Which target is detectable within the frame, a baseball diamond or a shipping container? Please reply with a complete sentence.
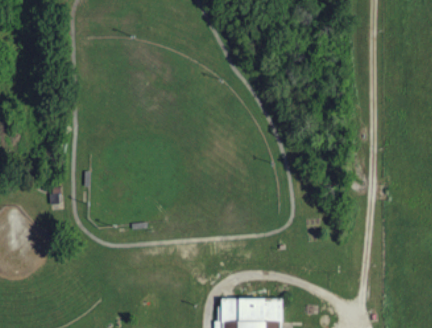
The one in the frame is a baseball diamond.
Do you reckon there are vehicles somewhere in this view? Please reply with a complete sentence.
No, I find no vehicle anywhere in the image.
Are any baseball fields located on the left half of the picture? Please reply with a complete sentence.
Yes, a baseball field can be seen on the left half of the picture.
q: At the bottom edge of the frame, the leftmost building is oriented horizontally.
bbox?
[214,298,282,328]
